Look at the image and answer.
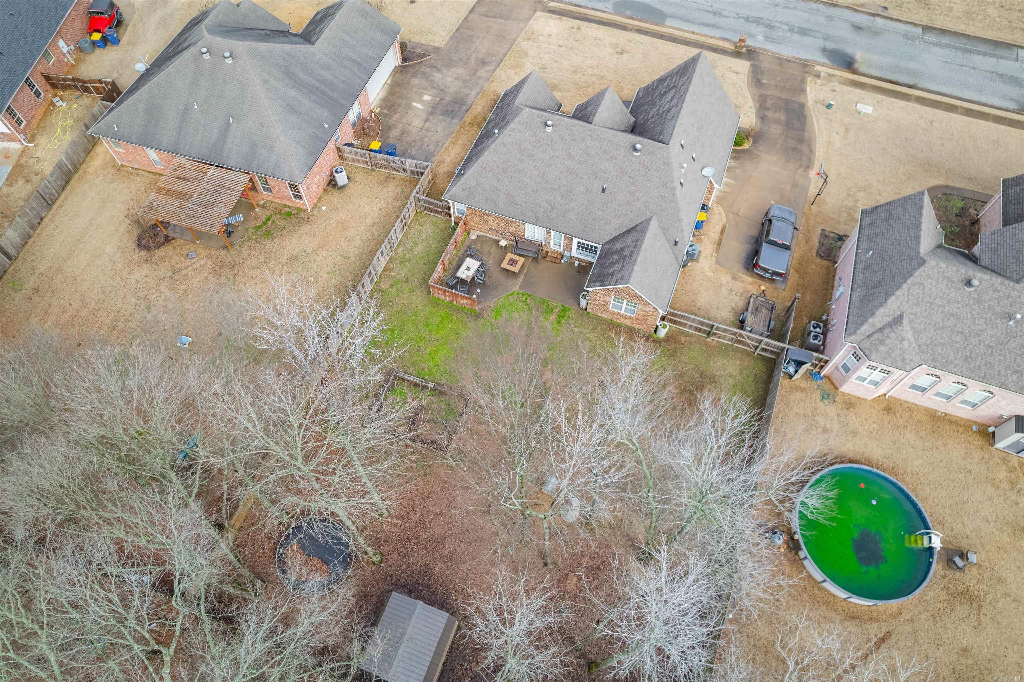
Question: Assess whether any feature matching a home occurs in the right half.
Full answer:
Yes, I can see a home in the right half.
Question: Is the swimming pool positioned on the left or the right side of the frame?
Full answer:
The swimming pool sits on the right side.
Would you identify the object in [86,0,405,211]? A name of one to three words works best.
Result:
house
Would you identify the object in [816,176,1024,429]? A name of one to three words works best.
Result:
house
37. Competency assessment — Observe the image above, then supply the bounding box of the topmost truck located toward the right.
[752,203,800,281]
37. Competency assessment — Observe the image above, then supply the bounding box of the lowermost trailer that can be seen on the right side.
[739,288,776,338]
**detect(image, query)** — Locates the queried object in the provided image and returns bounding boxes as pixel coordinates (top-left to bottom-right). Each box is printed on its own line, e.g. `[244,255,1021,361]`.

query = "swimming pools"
[788,465,937,605]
